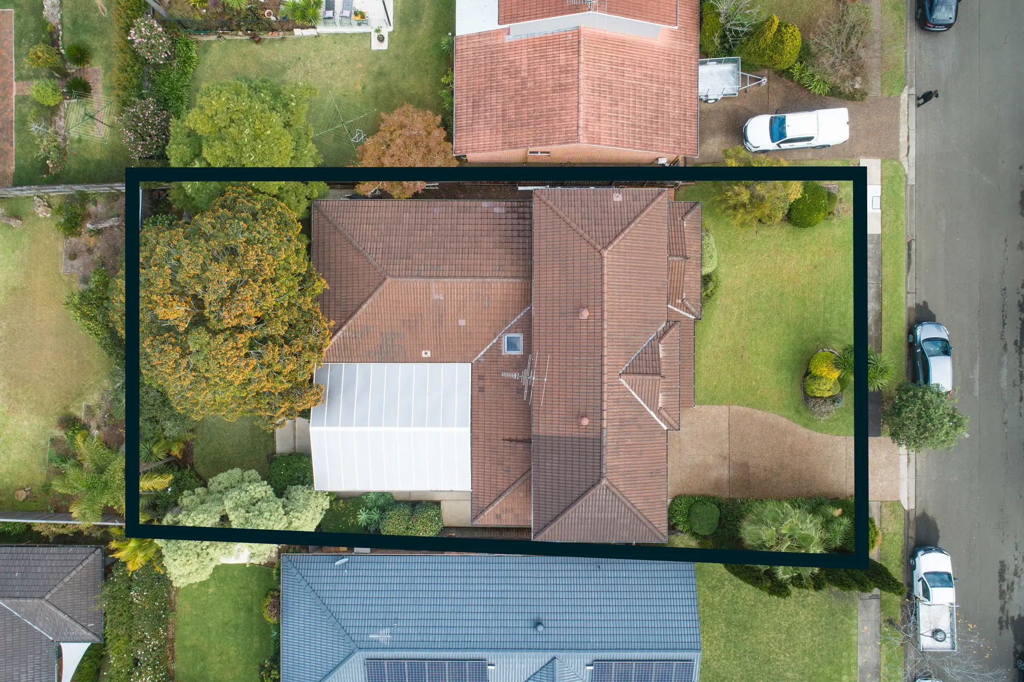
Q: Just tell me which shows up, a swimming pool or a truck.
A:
truck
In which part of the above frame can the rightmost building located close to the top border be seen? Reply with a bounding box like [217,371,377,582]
[451,0,701,164]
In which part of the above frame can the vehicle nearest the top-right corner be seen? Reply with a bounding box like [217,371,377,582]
[914,0,960,34]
